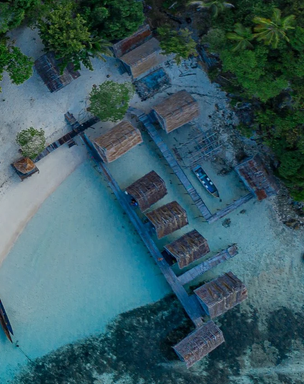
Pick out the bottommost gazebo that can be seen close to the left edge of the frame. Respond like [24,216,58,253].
[2,150,35,182]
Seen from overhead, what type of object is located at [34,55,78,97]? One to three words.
shed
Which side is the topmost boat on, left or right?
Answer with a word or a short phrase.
right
